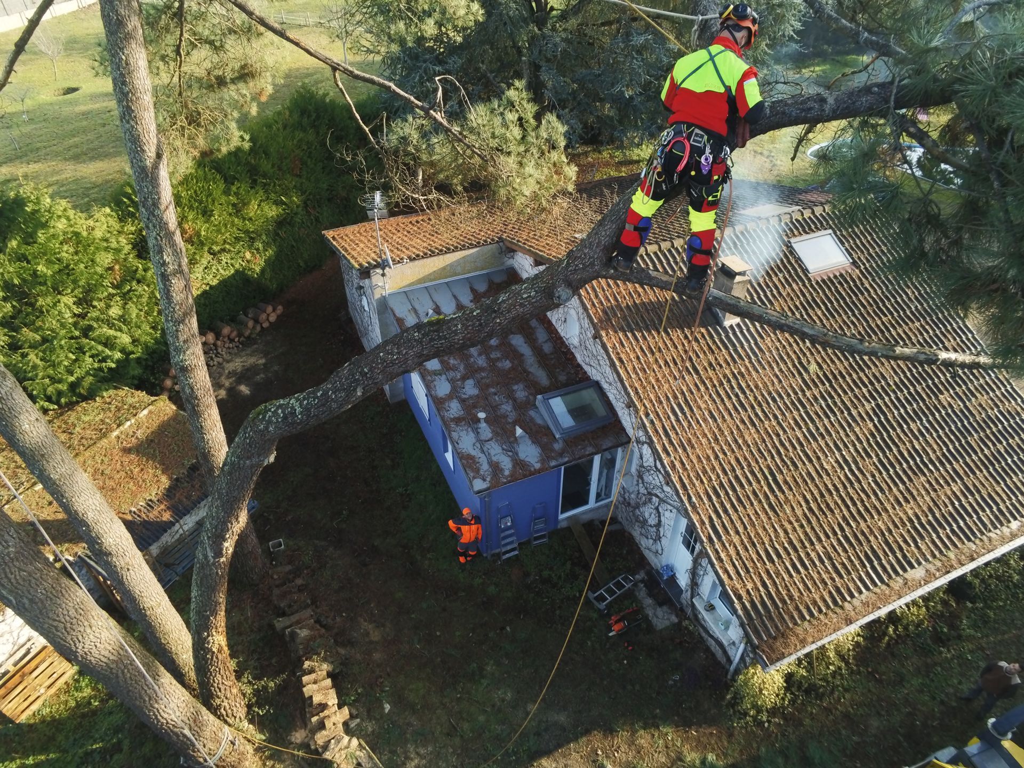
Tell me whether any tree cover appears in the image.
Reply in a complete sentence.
Yes, some tree cover is visible.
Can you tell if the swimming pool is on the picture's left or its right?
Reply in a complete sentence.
The swimming pool appears in the right half of the scene.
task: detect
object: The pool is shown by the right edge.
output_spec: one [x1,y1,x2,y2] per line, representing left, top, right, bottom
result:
[820,127,1021,187]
